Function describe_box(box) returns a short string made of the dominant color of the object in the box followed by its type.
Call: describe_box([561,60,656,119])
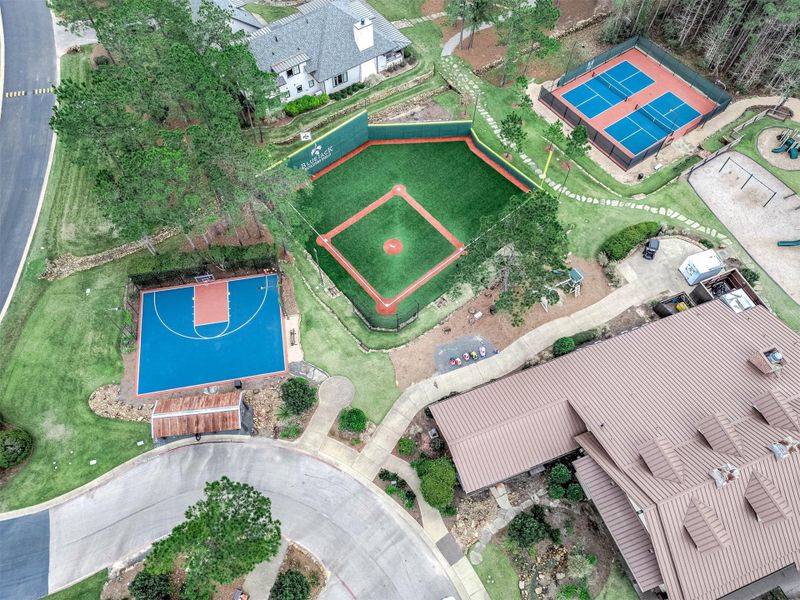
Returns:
blue sports court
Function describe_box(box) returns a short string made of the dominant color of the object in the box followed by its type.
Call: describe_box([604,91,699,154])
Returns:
blue sports court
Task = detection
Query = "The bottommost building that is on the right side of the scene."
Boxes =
[428,299,800,600]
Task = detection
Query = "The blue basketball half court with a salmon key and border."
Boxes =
[134,270,290,399]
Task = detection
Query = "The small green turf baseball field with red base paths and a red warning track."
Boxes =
[270,139,555,328]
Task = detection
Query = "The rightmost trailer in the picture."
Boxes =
[681,251,727,287]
